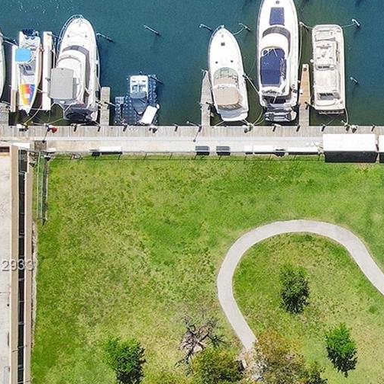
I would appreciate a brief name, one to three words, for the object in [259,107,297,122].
boat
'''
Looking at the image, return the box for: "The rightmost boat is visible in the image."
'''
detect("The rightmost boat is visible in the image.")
[310,21,348,118]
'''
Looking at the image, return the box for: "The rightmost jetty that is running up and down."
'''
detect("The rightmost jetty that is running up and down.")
[298,63,312,125]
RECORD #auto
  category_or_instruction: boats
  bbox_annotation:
[0,26,11,103]
[12,21,43,116]
[254,0,304,125]
[208,19,253,125]
[49,10,107,122]
[259,107,297,122]
[310,21,348,118]
[131,75,151,114]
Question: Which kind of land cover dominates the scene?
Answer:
grass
